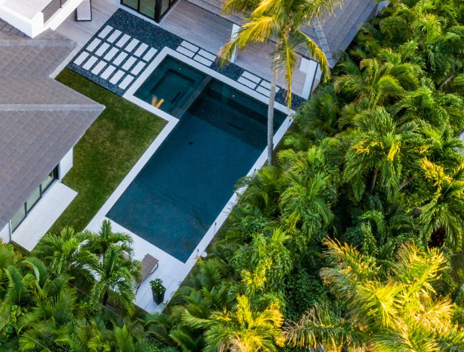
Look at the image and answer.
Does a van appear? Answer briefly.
No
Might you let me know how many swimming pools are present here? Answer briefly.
1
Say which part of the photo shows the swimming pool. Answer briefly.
center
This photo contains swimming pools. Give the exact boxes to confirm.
[69,46,301,327]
